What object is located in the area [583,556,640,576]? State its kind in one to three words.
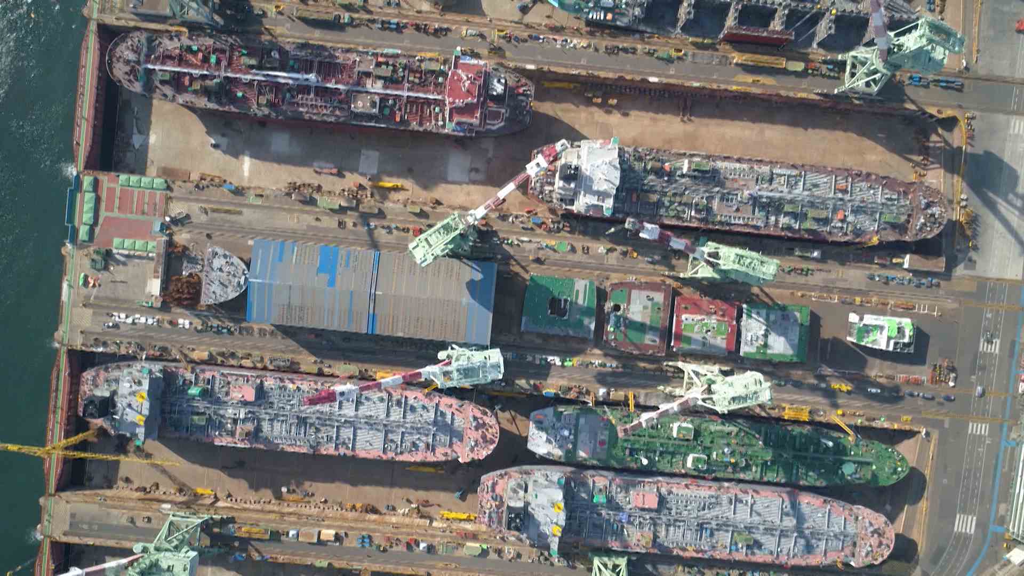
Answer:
crane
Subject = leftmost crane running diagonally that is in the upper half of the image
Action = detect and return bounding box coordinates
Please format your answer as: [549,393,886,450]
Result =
[405,143,563,275]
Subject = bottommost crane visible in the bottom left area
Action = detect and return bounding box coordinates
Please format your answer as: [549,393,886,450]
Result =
[1,512,210,576]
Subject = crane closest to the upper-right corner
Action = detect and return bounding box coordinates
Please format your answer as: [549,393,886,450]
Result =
[833,0,958,96]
